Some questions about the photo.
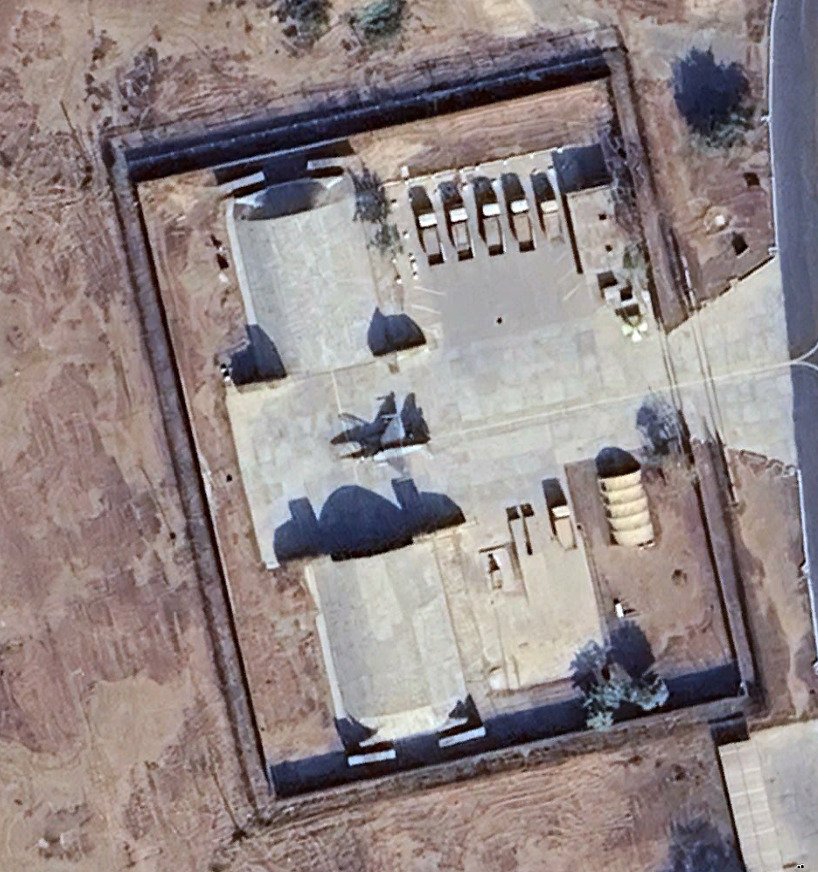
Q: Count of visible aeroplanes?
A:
one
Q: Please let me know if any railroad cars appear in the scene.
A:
No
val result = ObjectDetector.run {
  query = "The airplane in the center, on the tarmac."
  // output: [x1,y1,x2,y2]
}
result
[340,415,431,478]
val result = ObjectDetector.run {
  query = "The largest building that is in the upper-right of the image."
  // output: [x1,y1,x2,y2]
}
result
[563,177,626,270]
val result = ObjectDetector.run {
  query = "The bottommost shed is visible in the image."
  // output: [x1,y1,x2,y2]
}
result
[714,733,786,872]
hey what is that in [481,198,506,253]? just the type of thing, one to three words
truck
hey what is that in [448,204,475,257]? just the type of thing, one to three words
truck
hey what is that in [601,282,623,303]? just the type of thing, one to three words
shed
